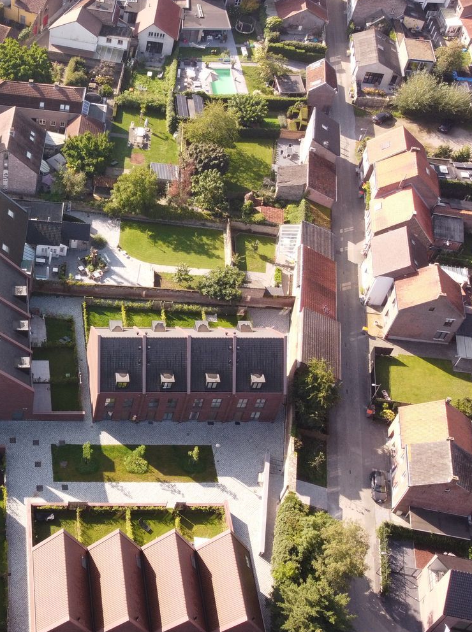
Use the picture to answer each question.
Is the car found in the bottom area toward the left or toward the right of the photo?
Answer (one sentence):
The car found in the bottom area sits on the right side.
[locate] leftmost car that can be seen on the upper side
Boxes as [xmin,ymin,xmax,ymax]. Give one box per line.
[368,111,396,127]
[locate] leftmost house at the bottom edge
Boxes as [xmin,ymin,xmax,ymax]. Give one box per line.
[29,527,94,632]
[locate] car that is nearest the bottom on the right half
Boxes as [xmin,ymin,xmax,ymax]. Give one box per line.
[368,468,390,505]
